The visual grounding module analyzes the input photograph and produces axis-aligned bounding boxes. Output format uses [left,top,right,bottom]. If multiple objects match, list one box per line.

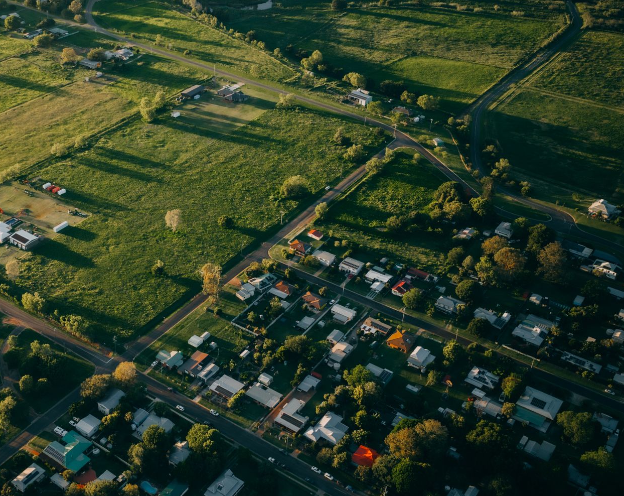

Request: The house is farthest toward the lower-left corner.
[10,464,46,496]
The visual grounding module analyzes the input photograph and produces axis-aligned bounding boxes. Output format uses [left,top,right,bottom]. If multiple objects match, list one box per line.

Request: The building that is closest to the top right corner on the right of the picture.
[589,199,617,219]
